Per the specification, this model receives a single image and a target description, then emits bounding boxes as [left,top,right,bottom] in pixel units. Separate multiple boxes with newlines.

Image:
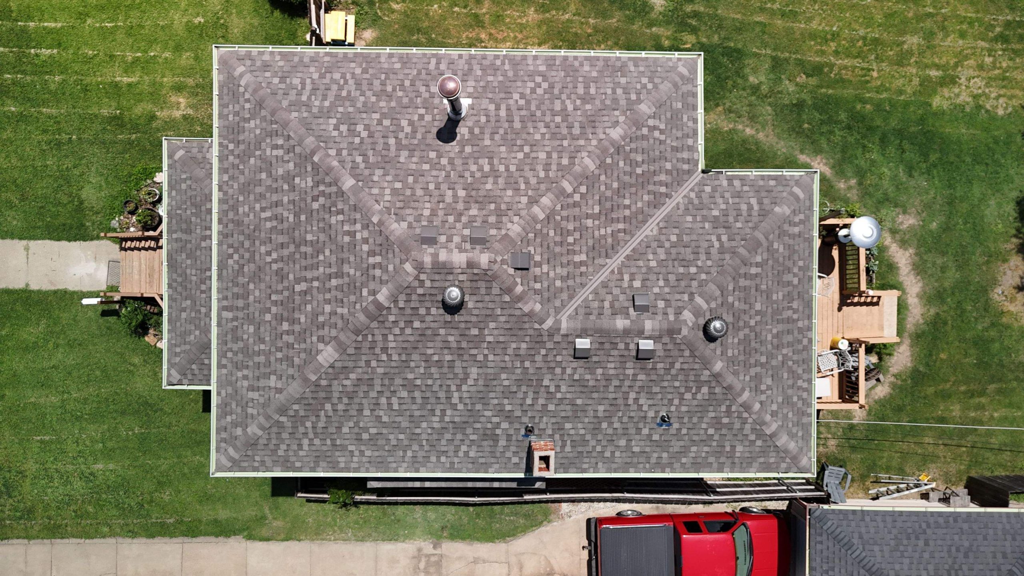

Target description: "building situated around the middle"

[163,45,819,487]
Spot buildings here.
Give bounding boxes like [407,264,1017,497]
[793,499,1024,576]
[163,45,819,487]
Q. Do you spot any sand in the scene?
No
